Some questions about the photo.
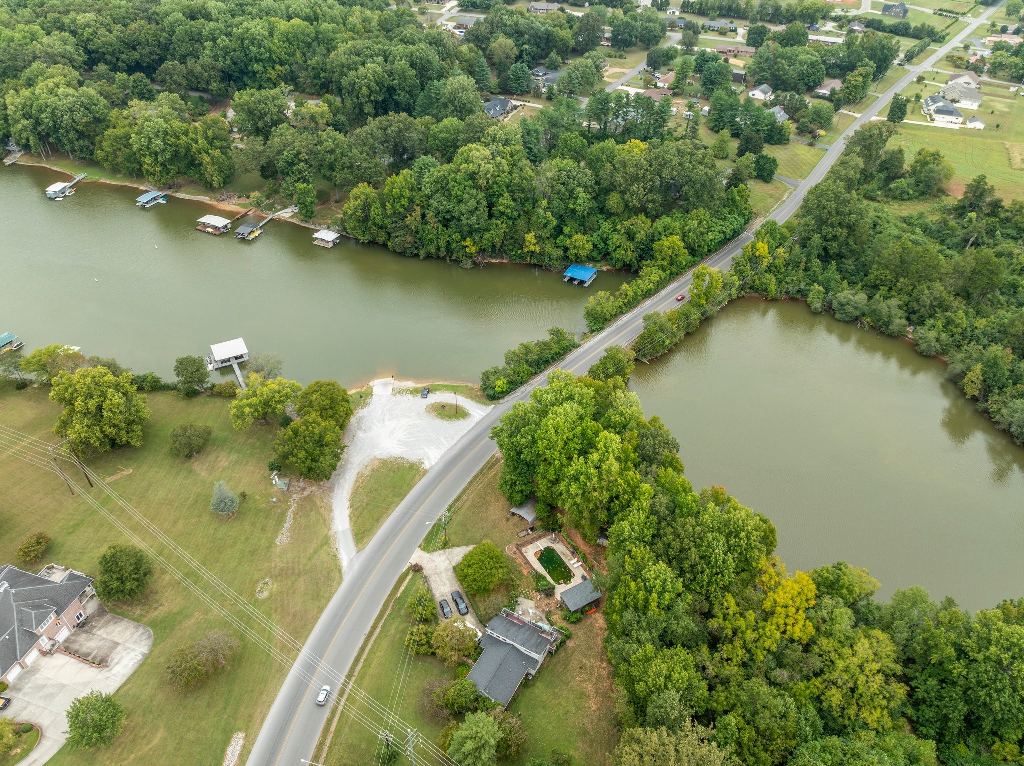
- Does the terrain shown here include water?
Yes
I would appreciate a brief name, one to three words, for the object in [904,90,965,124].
house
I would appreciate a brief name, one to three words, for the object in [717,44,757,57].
house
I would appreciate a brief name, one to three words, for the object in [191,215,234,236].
pier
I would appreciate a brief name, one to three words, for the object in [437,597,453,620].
car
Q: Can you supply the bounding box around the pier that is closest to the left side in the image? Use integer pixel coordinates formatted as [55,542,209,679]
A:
[0,333,36,360]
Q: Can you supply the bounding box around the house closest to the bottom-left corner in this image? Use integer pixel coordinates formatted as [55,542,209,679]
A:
[0,557,103,698]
